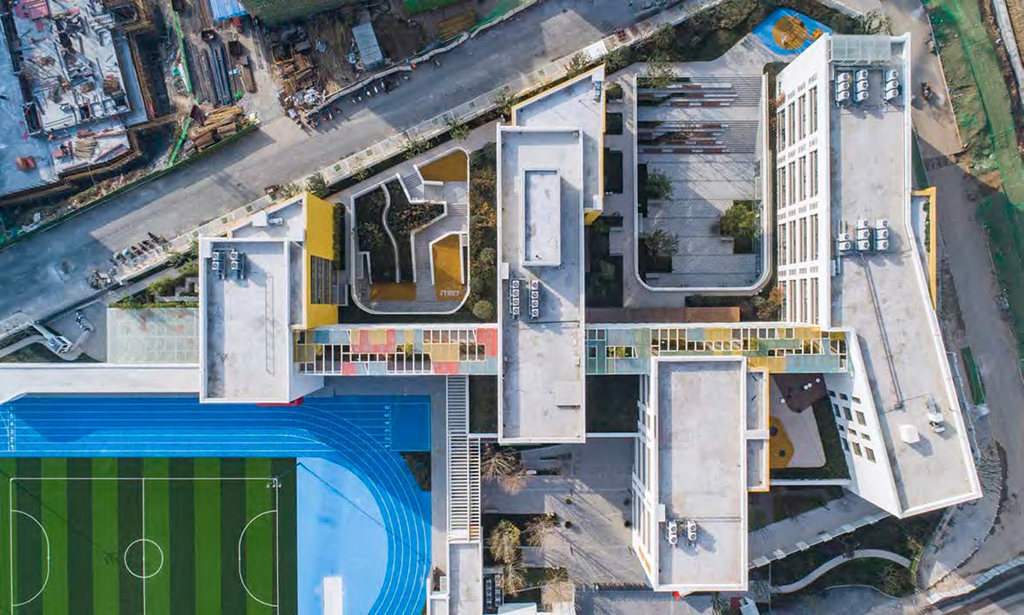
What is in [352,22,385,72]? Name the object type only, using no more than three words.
shed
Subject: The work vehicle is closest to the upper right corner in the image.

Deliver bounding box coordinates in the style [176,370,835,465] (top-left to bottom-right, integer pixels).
[921,81,935,101]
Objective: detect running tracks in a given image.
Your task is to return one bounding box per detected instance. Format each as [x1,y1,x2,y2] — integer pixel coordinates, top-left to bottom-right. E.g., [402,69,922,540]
[0,395,430,615]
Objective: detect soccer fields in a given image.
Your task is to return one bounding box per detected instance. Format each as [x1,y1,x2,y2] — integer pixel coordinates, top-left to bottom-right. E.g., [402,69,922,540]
[0,458,298,615]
